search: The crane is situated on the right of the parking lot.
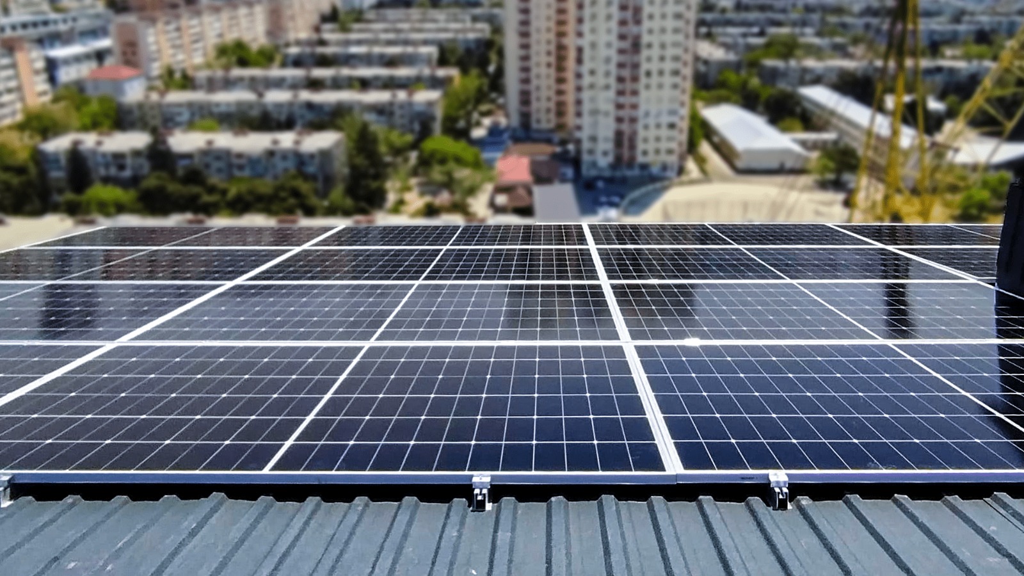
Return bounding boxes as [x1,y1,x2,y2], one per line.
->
[850,0,1024,224]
